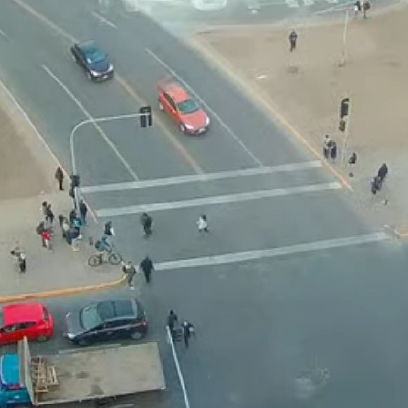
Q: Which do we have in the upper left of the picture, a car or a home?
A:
car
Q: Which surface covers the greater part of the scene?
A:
paved ground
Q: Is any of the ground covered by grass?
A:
No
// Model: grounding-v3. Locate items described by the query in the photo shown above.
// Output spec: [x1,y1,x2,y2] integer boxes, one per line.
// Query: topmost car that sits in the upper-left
[72,41,111,77]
